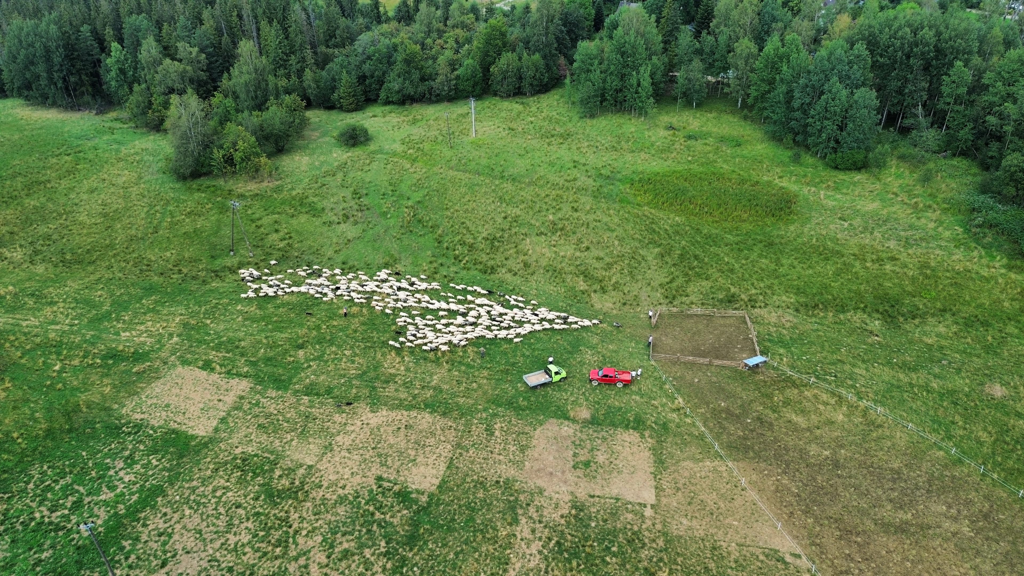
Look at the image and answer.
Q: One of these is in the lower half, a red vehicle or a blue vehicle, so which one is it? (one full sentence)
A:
The one visible in the lower half is a red vehicle.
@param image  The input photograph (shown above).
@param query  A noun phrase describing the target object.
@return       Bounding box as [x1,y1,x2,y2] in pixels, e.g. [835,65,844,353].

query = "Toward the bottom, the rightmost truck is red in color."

[587,367,630,388]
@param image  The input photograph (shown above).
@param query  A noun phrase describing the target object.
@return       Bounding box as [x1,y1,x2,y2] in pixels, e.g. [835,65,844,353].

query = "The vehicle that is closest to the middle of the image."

[520,364,567,389]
